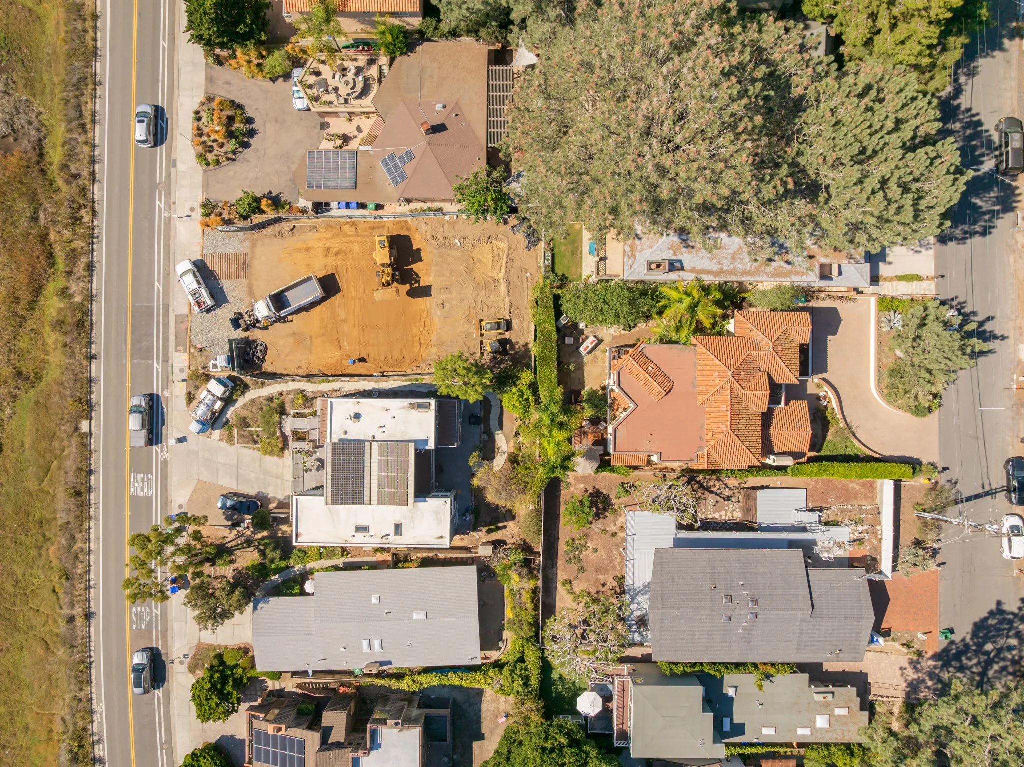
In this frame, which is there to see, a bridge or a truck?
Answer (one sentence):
It is a truck that can be seen here.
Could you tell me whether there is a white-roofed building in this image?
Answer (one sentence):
Yes, there's a white-roofed building here.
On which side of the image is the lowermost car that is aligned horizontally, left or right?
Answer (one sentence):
The lowermost car that is aligned horizontally sits on the left side.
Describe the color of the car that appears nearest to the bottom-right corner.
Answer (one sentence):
In this view, the car that appears nearest to the bottom-right corner is white.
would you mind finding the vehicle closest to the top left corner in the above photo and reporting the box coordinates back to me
[133,105,157,149]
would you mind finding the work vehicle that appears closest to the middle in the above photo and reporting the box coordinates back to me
[482,339,517,357]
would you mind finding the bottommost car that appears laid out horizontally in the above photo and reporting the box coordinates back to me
[217,494,262,517]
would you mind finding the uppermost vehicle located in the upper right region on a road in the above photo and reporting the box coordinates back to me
[1001,118,1024,175]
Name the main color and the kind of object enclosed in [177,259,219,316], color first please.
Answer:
white truck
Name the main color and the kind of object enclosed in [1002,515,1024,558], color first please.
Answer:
white car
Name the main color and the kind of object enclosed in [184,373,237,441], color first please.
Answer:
white truck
